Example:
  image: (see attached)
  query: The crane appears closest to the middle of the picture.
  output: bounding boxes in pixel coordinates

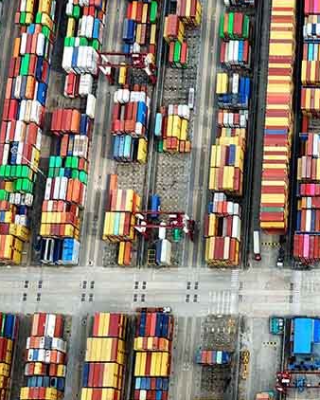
[135,212,209,245]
